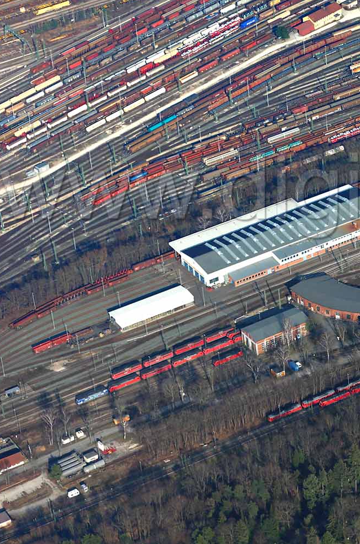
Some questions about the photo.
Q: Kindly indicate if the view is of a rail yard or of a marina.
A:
rail yard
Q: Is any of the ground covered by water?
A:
No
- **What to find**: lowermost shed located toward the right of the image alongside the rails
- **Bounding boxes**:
[240,311,308,355]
